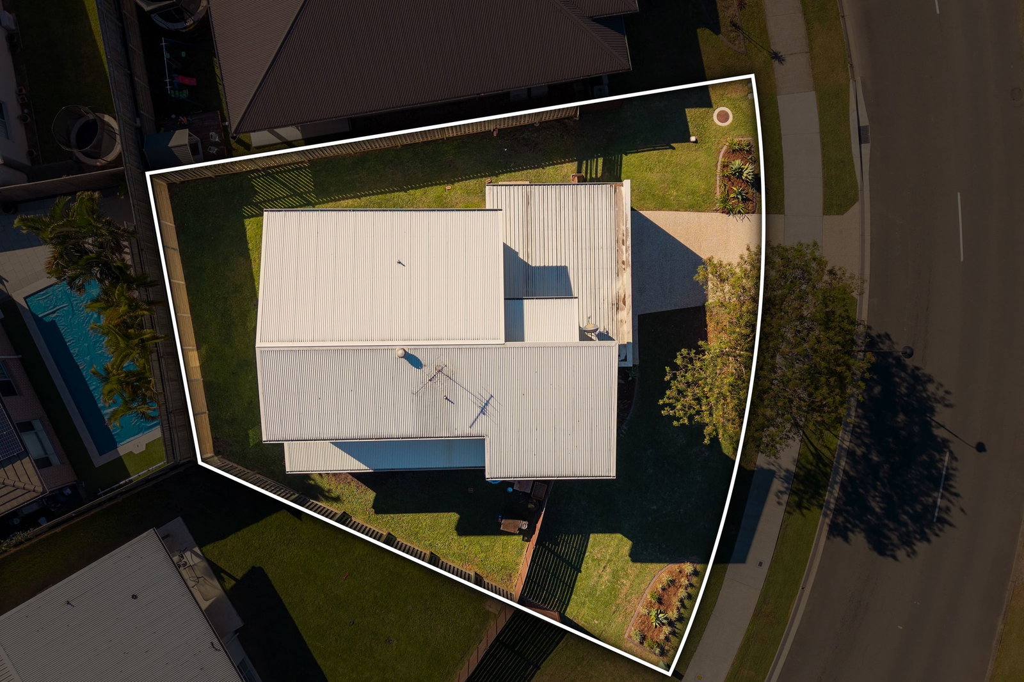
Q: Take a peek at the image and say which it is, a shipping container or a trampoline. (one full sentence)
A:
I can see a trampoline in this picture.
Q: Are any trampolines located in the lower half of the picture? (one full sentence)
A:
No, no trampoline is visible in the lower half of the picture.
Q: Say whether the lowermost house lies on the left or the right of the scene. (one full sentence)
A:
The lowermost house is on the left side of the image.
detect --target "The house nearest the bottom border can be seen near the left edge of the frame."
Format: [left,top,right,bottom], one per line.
[0,519,287,682]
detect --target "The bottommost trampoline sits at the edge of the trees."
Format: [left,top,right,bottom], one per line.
[48,100,123,169]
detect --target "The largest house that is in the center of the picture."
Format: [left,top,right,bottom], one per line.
[257,179,632,480]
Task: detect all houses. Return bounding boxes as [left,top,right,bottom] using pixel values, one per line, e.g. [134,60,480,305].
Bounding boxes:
[0,0,31,171]
[0,312,76,520]
[257,179,632,480]
[210,0,641,136]
[0,519,287,682]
